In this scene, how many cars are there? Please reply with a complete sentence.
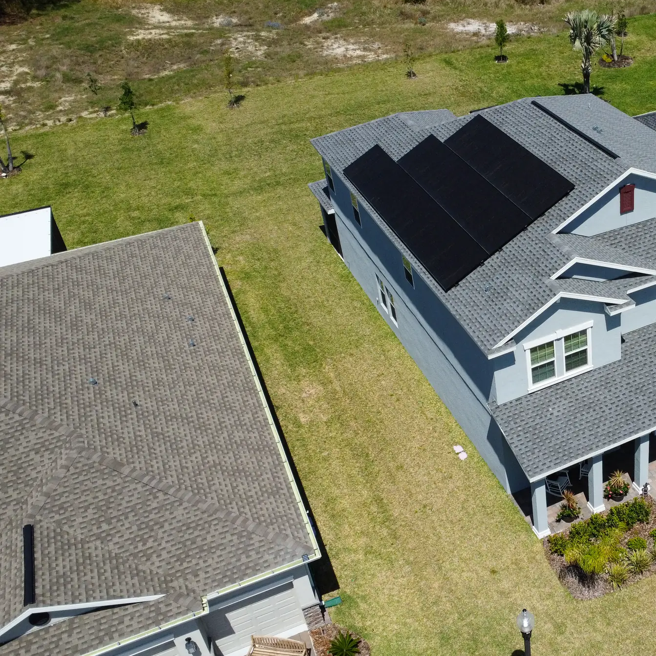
The picture shows no cars.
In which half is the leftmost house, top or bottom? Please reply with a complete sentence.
The leftmost house sits in the bottom half of the picture.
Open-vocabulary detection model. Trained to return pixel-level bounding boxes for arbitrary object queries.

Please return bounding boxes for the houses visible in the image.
[308,93,656,538]
[0,208,324,656]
